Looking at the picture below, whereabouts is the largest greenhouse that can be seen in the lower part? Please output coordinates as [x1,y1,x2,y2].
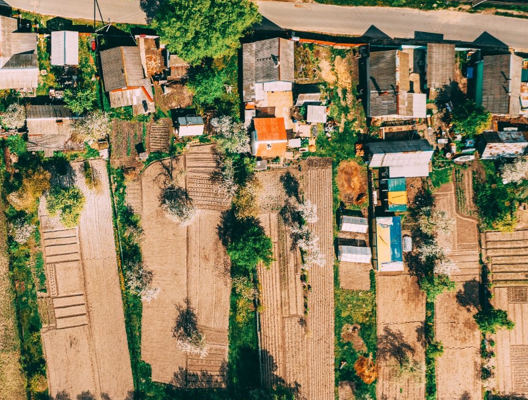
[372,216,403,271]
